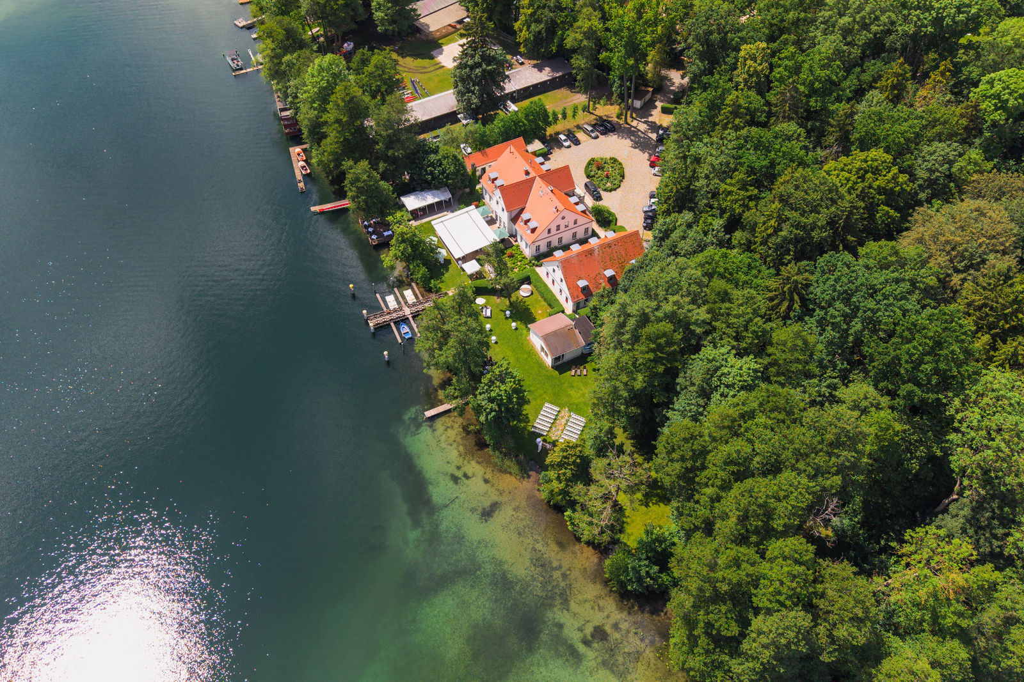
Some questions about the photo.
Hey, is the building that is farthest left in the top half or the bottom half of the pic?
top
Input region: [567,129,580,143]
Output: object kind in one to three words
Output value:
vehicle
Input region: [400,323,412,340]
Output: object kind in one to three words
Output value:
boat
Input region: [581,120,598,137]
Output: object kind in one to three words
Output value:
car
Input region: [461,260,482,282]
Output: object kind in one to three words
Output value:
gazebo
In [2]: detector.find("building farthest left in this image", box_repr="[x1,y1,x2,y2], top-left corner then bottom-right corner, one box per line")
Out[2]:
[275,101,305,137]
